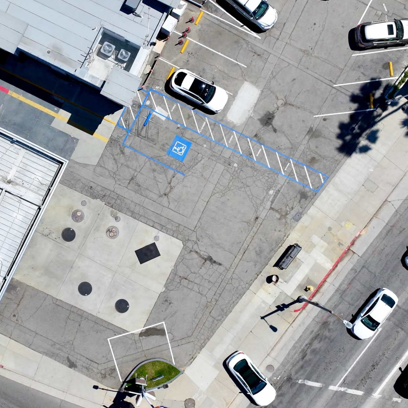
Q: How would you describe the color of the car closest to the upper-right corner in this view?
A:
white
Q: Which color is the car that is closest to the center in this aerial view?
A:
white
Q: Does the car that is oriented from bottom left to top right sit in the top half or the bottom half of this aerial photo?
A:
bottom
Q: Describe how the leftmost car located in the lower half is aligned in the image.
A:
at an angle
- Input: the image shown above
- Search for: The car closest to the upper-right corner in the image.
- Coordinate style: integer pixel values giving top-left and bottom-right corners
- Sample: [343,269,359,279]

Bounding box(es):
[357,17,408,48]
